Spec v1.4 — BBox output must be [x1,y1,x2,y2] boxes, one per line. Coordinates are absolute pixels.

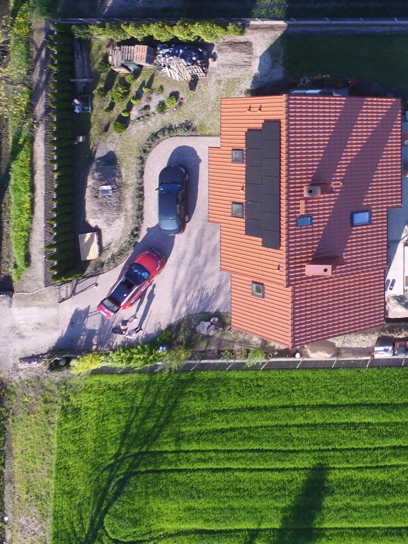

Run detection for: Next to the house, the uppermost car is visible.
[150,164,188,236]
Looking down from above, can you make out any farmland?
Yes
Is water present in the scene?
No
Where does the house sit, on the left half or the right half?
right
